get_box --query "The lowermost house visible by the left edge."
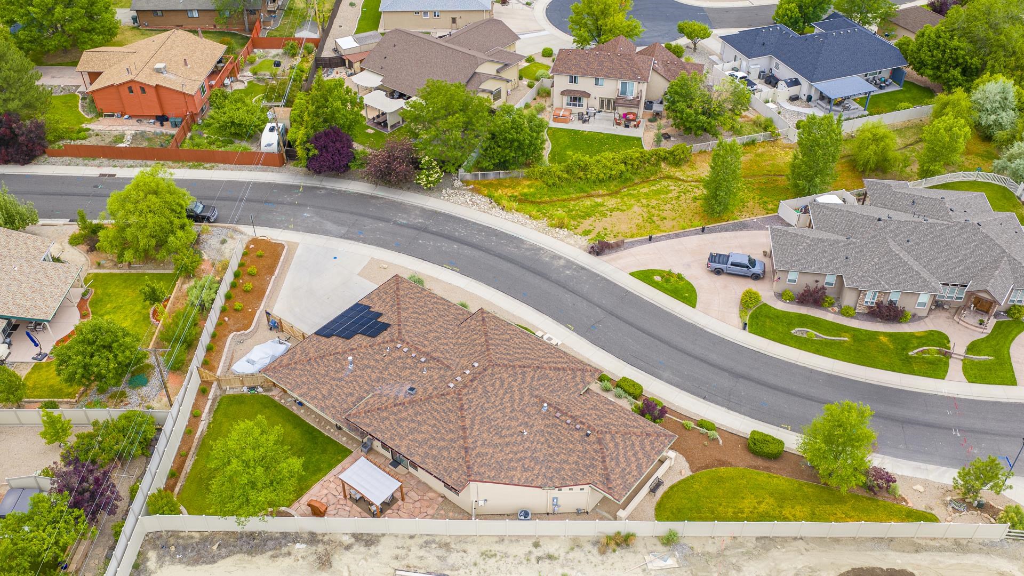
[0,225,83,340]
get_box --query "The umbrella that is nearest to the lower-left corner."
[17,327,44,360]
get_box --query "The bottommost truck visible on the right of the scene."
[705,250,771,281]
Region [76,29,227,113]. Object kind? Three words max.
house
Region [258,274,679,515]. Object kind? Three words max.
house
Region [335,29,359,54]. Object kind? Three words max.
shed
